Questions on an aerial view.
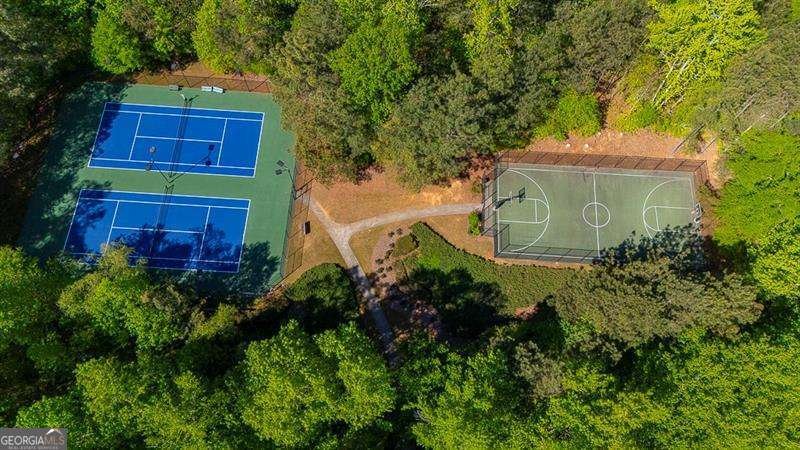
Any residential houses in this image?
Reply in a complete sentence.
No, no residential house can be seen from above.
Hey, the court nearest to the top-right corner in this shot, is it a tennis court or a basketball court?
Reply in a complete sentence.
What you see as the court nearest to the top-right corner is a basketball court.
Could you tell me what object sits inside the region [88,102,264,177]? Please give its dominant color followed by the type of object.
blue tennis court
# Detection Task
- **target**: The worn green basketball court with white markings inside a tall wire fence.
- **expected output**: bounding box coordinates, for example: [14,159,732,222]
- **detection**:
[481,161,706,268]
